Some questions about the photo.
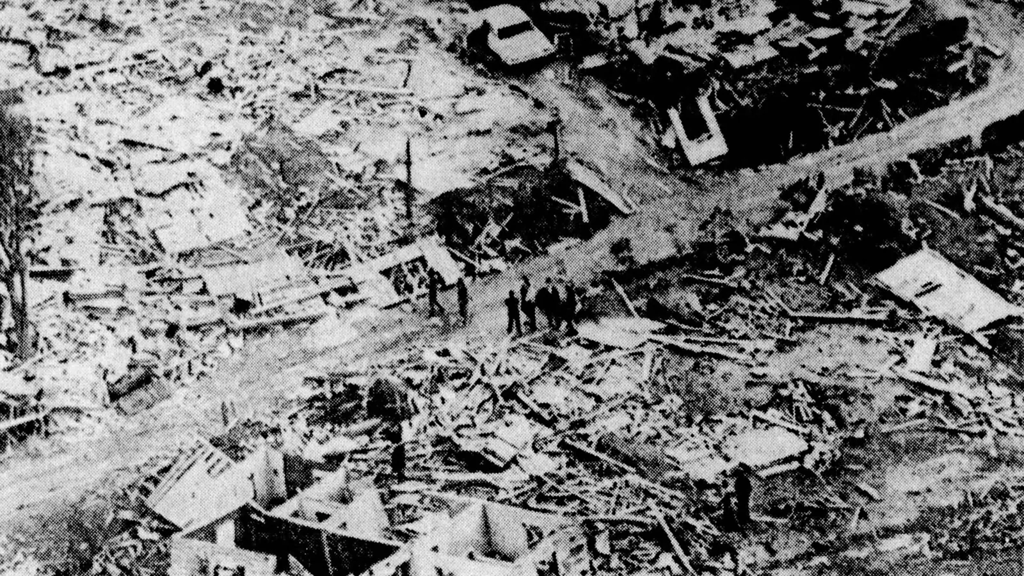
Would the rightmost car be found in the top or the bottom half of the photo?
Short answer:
top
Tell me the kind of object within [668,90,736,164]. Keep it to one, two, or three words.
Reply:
car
